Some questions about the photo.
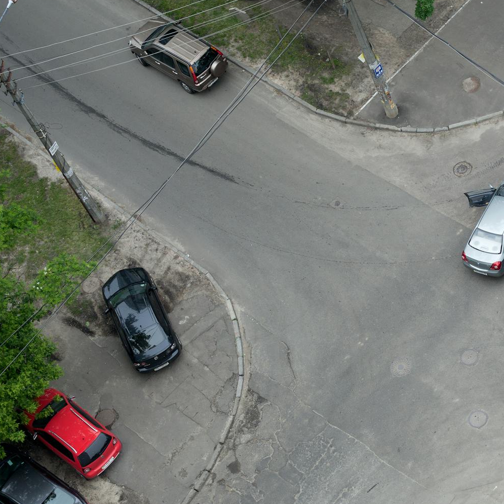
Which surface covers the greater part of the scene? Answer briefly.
paved ground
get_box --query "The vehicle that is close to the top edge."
[131,20,234,94]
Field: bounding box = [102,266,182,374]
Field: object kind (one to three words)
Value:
car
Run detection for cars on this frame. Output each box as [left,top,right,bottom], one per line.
[102,266,182,374]
[0,446,85,504]
[131,20,234,94]
[25,384,125,484]
[458,177,504,279]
